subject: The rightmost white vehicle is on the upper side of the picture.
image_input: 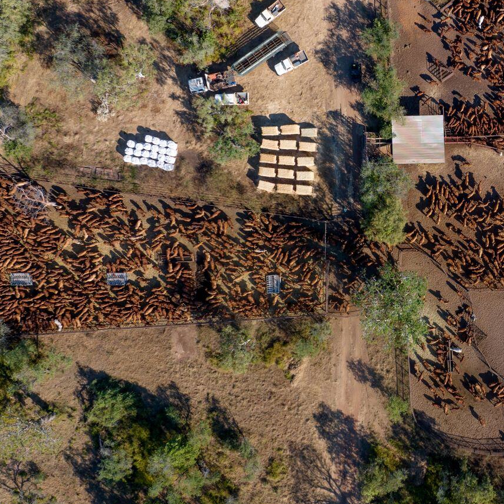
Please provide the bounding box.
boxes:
[275,50,310,75]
